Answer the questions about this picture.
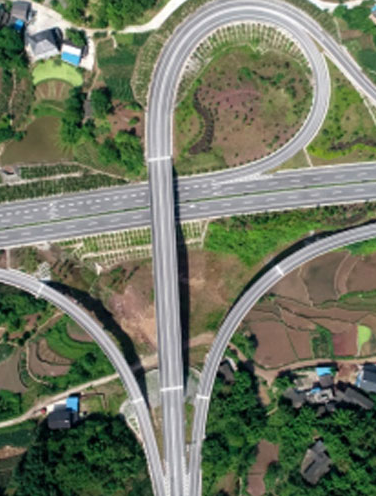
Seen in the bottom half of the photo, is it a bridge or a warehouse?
bridge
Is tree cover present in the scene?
Yes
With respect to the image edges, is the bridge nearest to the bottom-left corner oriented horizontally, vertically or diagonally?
diagonally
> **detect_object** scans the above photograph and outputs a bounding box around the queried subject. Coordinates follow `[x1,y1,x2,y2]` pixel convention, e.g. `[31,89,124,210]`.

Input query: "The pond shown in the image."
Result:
[1,115,71,165]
